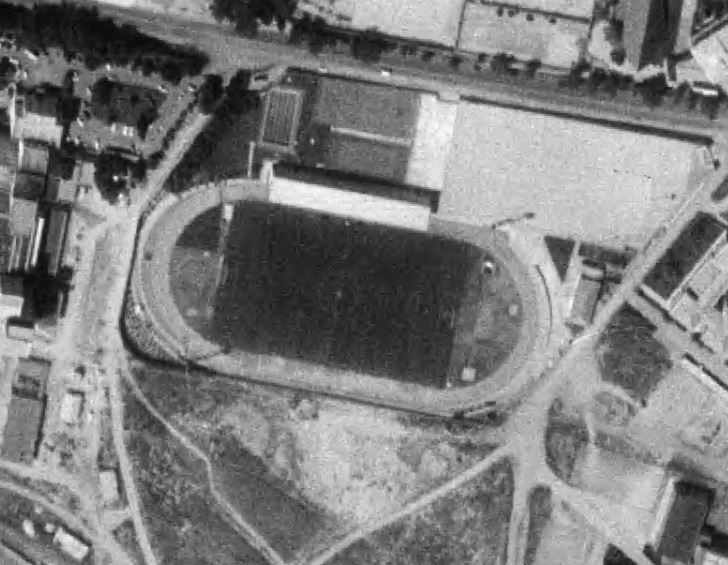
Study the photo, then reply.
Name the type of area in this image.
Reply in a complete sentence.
The area seen from above is a sports ground.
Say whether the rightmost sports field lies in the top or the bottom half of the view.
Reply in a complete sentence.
Seen from above, the rightmost sports field lies in the top half of the view.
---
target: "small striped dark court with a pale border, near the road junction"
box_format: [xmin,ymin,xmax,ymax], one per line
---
[261,88,303,150]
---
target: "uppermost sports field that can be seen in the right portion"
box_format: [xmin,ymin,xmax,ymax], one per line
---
[438,103,706,249]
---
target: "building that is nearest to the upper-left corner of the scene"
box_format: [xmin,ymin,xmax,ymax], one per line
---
[14,91,68,148]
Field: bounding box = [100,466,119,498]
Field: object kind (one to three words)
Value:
shed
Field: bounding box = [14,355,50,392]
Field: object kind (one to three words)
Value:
building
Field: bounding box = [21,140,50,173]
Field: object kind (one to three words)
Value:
house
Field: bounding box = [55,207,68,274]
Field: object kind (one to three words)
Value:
shed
